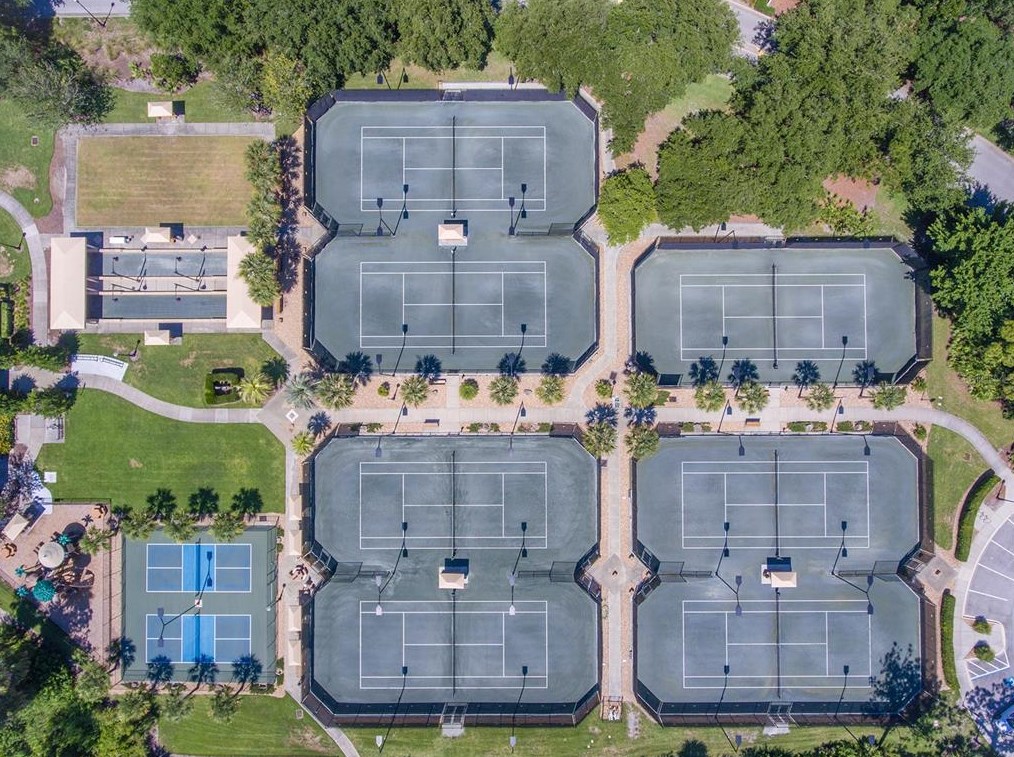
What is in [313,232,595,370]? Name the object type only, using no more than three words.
tennis court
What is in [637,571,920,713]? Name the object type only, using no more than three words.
tennis court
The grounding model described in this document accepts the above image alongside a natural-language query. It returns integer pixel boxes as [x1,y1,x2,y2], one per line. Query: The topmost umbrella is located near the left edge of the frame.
[41,539,68,567]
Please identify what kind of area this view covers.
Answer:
sports ground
